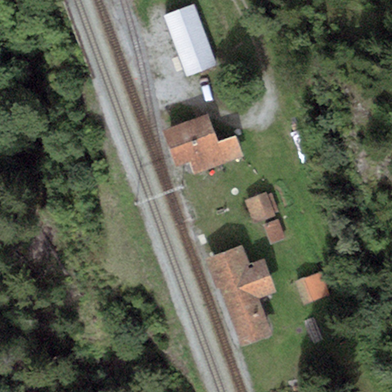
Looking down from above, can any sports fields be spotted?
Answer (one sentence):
No, there's no sports field here.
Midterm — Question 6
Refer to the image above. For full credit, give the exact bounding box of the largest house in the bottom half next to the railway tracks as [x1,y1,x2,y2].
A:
[205,246,276,348]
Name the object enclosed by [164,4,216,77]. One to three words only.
shed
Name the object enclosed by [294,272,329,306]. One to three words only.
shed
